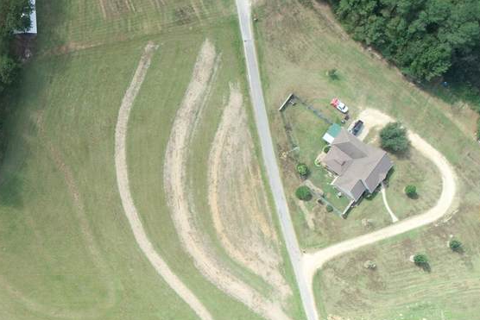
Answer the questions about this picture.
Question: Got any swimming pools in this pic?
No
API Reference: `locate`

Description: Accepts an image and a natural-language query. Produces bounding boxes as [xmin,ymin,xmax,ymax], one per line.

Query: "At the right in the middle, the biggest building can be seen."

[316,126,394,203]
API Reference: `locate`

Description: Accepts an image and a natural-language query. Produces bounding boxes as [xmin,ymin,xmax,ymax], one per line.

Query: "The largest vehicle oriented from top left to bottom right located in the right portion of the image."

[330,97,349,113]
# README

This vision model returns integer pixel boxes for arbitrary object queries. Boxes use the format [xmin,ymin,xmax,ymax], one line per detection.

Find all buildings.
[17,0,36,33]
[316,126,394,203]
